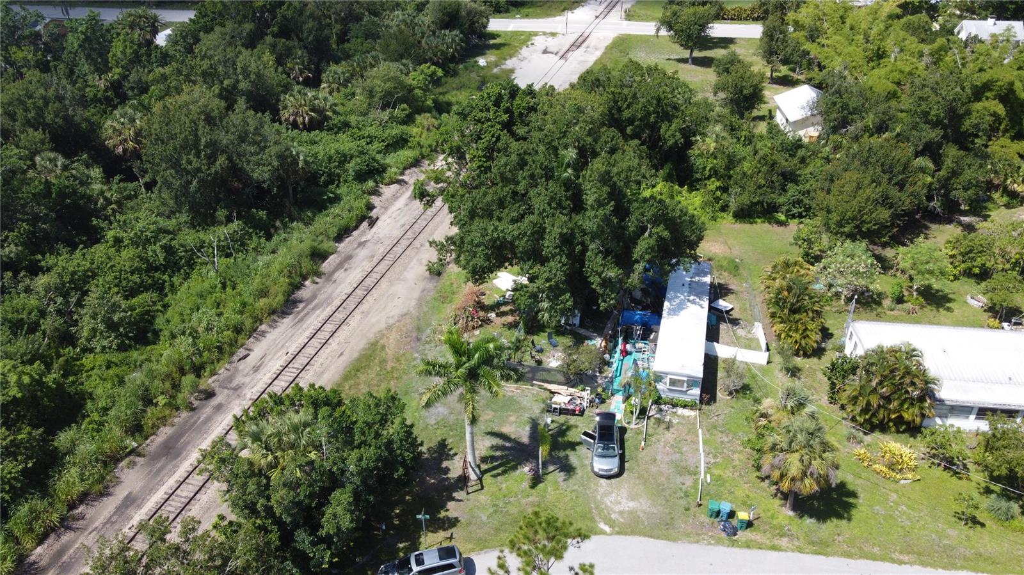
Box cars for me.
[577,405,623,476]
[371,543,462,575]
